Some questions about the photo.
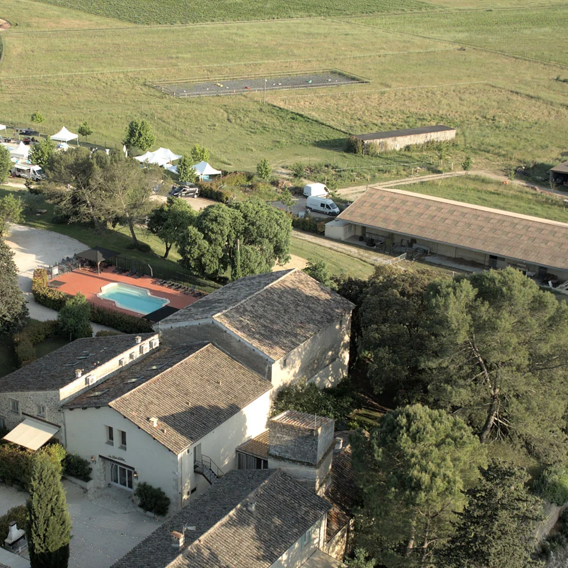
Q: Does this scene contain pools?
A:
Yes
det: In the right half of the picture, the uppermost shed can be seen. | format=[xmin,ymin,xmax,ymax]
[341,120,451,155]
